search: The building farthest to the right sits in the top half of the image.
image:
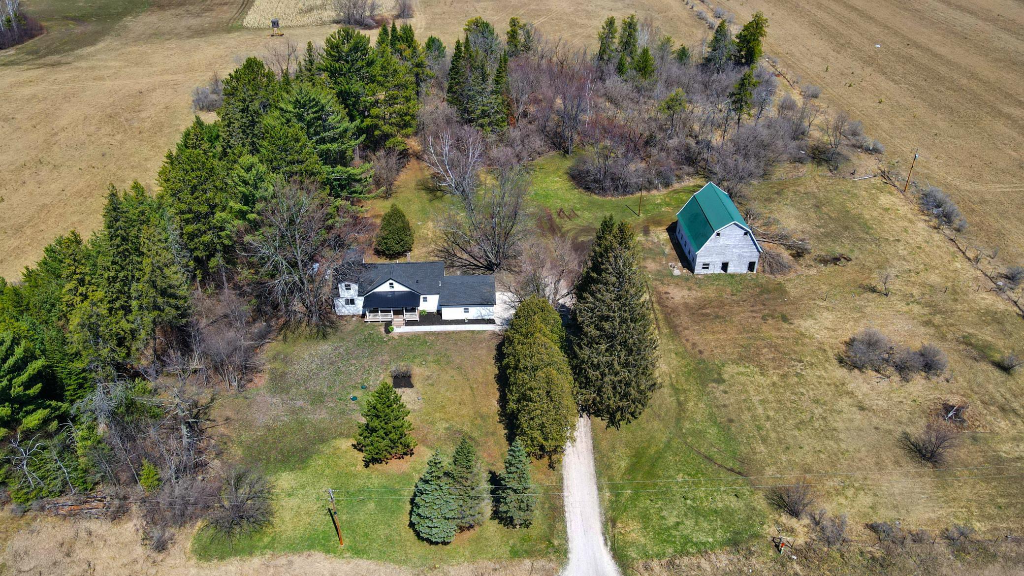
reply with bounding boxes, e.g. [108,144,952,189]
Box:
[673,184,764,274]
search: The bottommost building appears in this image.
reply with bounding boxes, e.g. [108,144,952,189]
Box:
[327,244,497,330]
